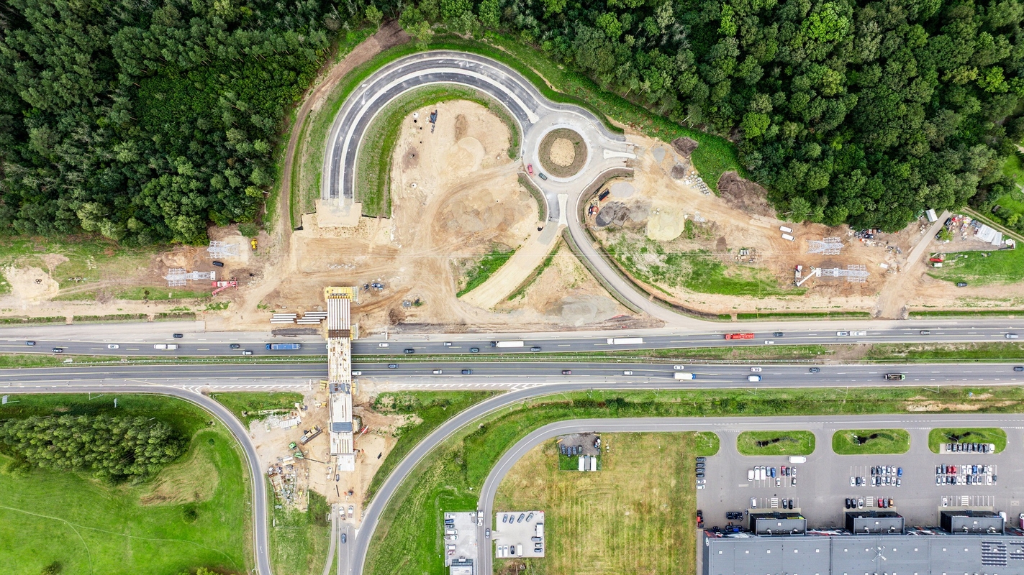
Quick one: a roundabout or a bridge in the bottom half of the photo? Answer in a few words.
bridge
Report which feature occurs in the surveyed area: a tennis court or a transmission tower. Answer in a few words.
transmission tower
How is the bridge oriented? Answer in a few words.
up and down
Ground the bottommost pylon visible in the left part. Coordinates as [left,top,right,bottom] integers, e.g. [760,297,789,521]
[163,268,215,286]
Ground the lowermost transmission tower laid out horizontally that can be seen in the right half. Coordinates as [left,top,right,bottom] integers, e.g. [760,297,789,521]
[817,265,870,283]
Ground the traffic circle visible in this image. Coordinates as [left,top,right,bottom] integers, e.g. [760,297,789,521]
[513,99,636,224]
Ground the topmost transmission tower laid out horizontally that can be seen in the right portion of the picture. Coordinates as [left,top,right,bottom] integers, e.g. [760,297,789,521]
[806,236,845,255]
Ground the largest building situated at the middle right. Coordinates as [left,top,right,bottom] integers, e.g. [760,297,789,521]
[968,221,999,246]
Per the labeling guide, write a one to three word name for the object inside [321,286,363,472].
bridge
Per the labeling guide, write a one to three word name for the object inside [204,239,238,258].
pylon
